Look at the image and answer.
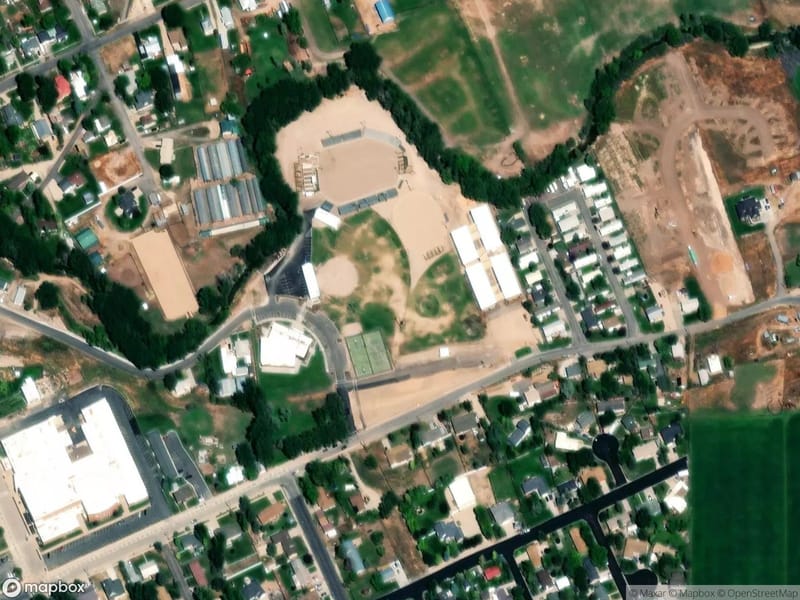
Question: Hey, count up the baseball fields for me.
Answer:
2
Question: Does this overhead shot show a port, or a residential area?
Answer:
residential area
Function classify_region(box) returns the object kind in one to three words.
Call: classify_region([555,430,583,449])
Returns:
house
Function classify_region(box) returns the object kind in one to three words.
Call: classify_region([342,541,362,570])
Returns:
house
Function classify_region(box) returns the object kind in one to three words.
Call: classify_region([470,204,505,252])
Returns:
building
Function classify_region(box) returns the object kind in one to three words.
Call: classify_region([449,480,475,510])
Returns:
barn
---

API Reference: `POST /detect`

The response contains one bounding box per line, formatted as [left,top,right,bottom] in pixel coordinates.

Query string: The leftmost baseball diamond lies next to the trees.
[312,208,410,352]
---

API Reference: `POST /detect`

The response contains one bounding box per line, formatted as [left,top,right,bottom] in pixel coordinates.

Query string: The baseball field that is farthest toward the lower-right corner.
[398,252,484,354]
